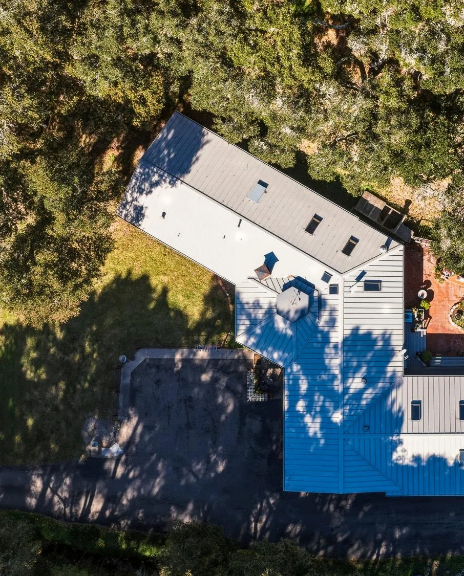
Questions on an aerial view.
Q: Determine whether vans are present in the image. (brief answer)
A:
No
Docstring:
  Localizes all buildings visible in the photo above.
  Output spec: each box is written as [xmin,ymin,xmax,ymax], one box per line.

[354,190,413,242]
[118,111,464,497]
